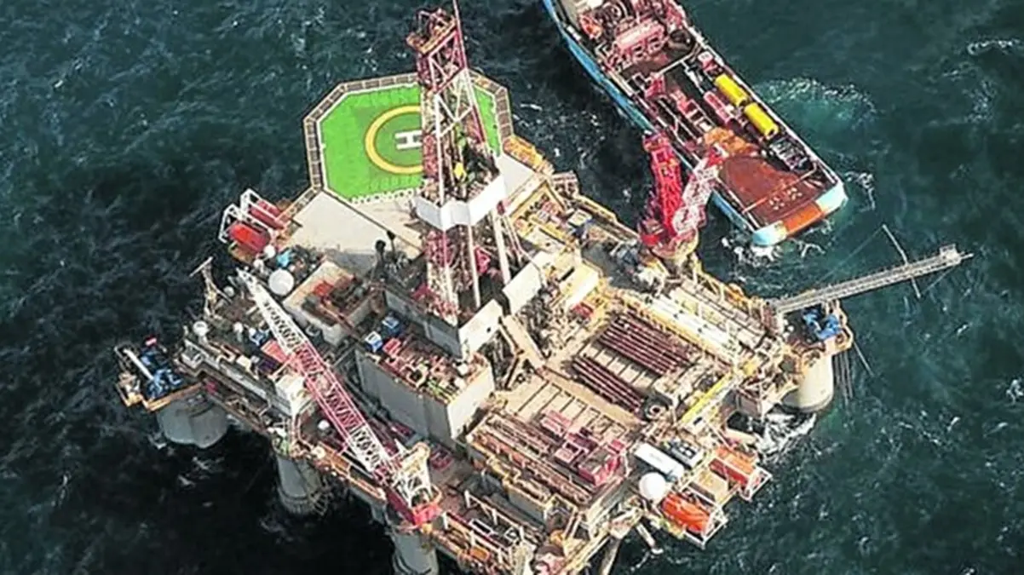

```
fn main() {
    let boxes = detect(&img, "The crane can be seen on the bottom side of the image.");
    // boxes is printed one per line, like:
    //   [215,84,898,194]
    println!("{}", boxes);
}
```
[230,268,458,542]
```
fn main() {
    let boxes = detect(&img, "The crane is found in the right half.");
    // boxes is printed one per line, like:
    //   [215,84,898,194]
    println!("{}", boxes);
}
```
[642,139,722,296]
